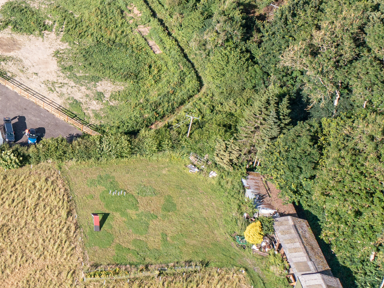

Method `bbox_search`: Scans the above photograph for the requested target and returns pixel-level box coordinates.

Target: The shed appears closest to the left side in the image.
[245,172,293,225]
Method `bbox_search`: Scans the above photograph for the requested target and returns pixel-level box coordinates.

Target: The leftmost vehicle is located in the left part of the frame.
[4,114,17,142]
